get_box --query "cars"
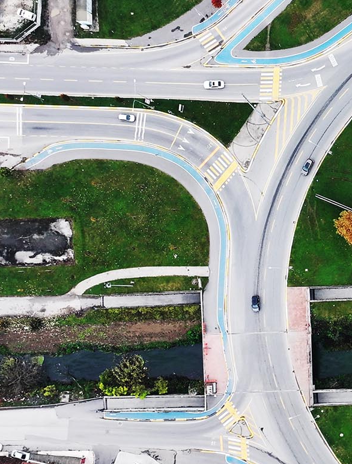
[302,158,314,176]
[203,80,225,89]
[18,7,38,21]
[251,294,260,312]
[117,114,136,123]
[12,449,32,459]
